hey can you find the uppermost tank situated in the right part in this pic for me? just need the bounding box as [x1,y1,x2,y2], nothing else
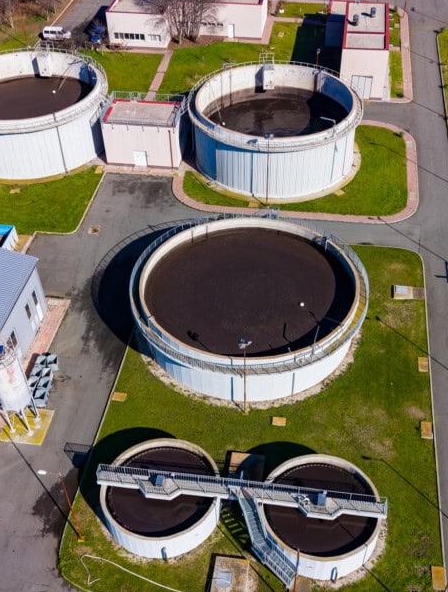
[187,50,361,198]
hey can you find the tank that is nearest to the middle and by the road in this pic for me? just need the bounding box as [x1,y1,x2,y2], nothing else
[130,204,370,401]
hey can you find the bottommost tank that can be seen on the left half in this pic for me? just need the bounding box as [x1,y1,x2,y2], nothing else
[99,438,221,561]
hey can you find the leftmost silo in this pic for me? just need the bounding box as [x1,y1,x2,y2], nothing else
[0,336,41,437]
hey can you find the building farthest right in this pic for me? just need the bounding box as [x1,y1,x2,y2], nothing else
[339,0,389,100]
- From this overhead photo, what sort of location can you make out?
industrial area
